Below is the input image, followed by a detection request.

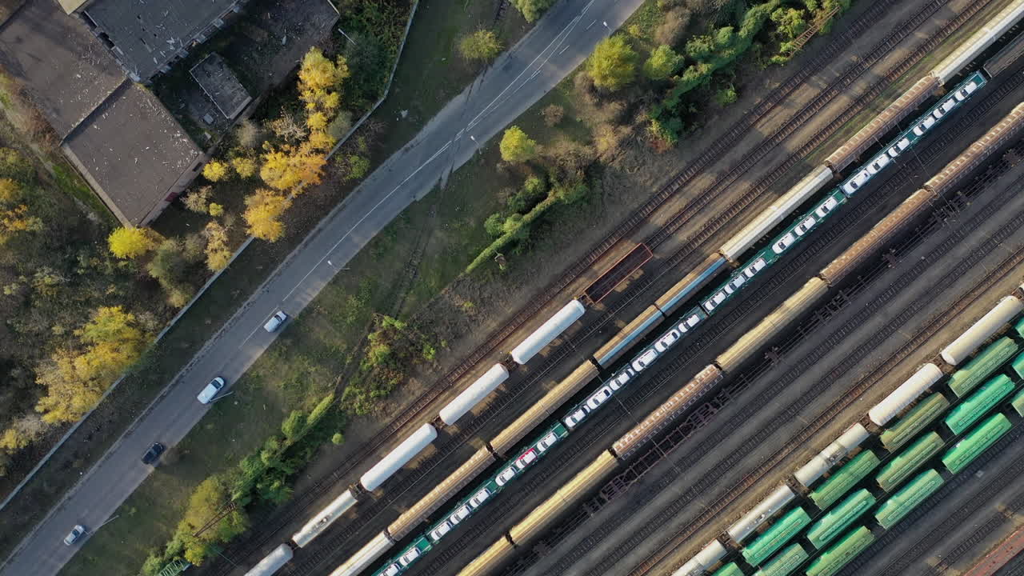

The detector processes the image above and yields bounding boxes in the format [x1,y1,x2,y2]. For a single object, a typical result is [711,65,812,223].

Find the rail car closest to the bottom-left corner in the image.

[243,537,299,576]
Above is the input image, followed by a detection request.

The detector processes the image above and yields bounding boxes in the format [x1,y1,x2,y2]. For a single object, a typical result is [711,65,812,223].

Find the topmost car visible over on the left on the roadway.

[263,311,287,333]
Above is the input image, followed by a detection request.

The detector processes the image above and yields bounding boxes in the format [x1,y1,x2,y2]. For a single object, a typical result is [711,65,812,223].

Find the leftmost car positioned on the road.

[64,523,86,545]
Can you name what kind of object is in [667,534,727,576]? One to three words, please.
rail car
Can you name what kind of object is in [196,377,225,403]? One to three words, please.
vehicle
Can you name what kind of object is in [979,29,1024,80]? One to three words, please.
rail car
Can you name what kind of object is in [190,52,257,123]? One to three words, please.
shed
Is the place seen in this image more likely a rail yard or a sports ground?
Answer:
rail yard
